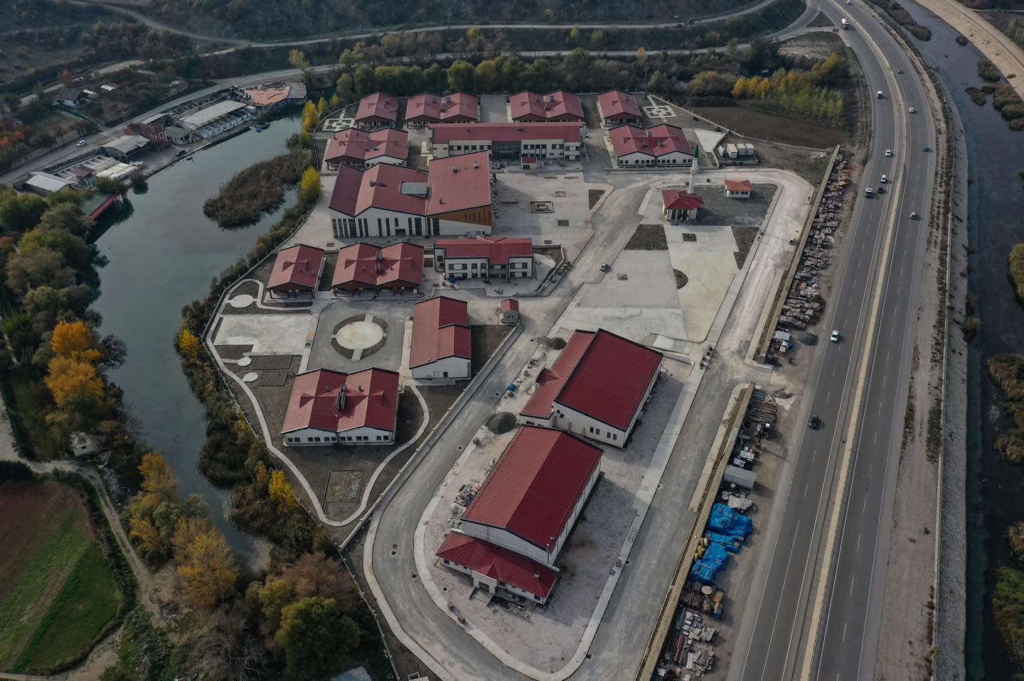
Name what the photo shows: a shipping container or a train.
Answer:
shipping container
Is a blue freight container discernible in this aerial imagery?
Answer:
No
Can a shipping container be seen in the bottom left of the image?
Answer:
No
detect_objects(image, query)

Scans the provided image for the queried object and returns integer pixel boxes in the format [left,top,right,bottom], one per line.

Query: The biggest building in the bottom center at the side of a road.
[438,423,602,616]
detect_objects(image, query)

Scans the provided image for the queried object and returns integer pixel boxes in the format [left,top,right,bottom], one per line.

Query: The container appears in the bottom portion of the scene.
[723,466,759,491]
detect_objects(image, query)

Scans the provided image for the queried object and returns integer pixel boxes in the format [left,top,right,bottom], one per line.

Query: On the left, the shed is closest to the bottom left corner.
[72,432,99,462]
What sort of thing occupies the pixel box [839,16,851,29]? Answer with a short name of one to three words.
vehicle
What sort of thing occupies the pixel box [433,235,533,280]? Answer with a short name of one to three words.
building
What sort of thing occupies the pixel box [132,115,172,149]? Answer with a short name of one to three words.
house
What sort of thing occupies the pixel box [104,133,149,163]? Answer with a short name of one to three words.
shed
